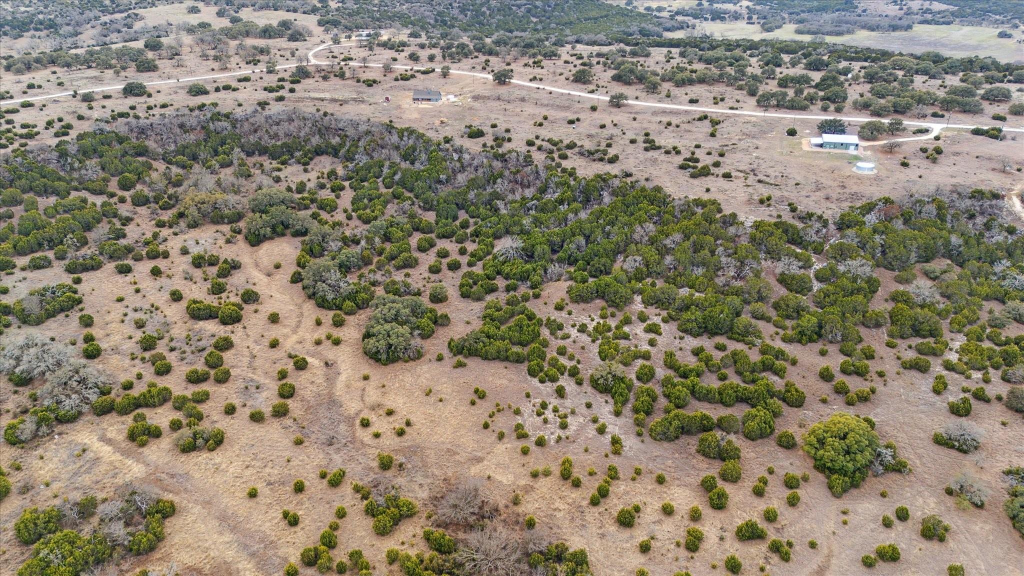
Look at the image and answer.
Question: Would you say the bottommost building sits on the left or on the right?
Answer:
right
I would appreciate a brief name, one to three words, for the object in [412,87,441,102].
house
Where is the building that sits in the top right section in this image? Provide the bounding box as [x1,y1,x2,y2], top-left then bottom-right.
[807,130,862,153]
